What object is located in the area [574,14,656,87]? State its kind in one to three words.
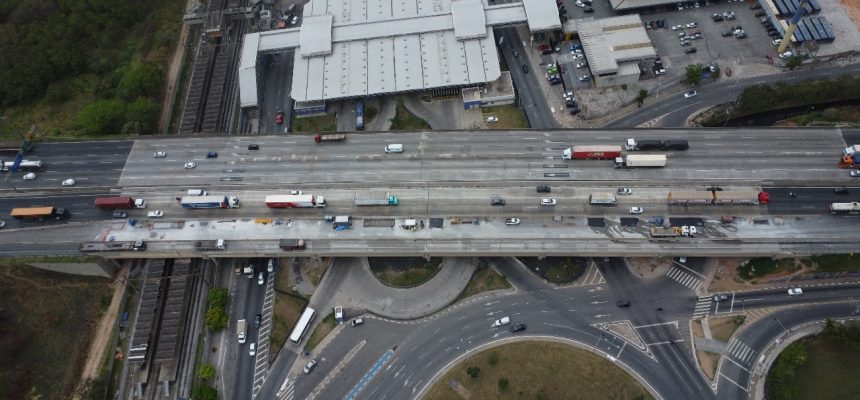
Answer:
building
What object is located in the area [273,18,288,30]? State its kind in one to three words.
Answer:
vehicle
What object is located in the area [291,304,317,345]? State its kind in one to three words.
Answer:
bus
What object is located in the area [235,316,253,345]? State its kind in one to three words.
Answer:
vehicle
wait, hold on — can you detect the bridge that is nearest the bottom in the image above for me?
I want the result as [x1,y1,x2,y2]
[0,124,860,271]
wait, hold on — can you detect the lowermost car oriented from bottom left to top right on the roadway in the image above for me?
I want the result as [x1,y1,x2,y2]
[302,357,319,375]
